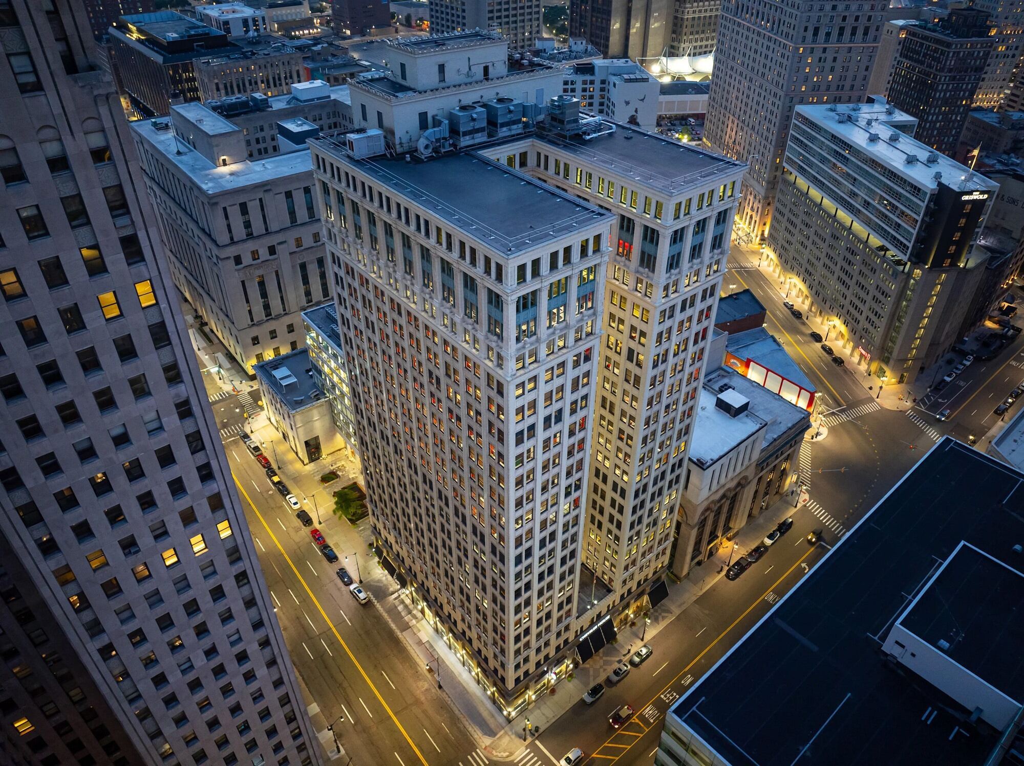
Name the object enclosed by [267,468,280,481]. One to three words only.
vehicle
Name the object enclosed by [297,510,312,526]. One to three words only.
car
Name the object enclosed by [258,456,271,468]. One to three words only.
vehicle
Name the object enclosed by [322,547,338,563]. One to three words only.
car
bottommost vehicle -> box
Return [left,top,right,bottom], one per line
[557,743,583,766]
